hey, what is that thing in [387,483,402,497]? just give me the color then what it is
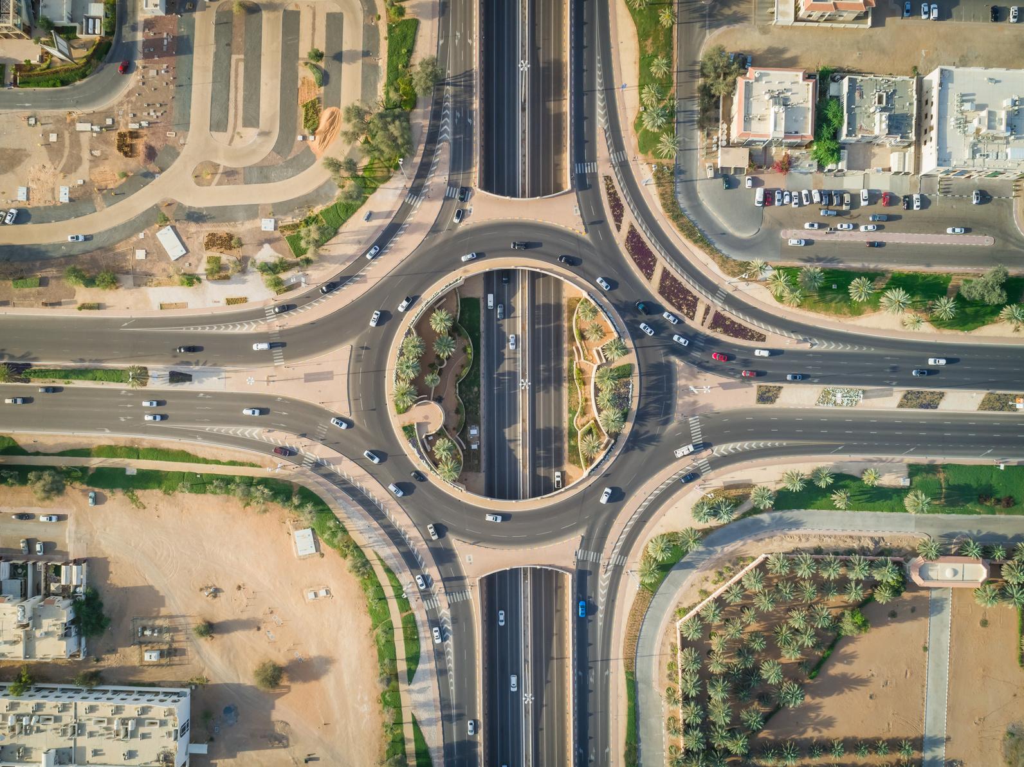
white car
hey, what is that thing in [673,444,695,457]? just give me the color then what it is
white vehicle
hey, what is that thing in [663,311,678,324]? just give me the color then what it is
white vehicle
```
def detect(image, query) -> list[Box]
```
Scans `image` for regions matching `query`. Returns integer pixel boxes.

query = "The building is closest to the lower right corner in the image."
[902,553,992,588]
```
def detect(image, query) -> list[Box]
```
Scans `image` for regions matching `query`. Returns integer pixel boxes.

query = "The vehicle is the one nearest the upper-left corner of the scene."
[118,59,131,75]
